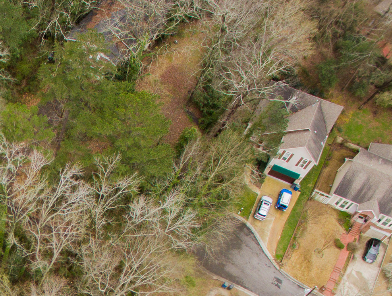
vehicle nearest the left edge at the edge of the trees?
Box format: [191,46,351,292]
[255,196,273,219]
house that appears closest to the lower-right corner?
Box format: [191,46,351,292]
[306,131,392,235]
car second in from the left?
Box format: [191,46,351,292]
[276,188,292,211]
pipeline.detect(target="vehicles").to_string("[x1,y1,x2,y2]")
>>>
[276,188,292,211]
[364,239,379,262]
[255,196,273,219]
